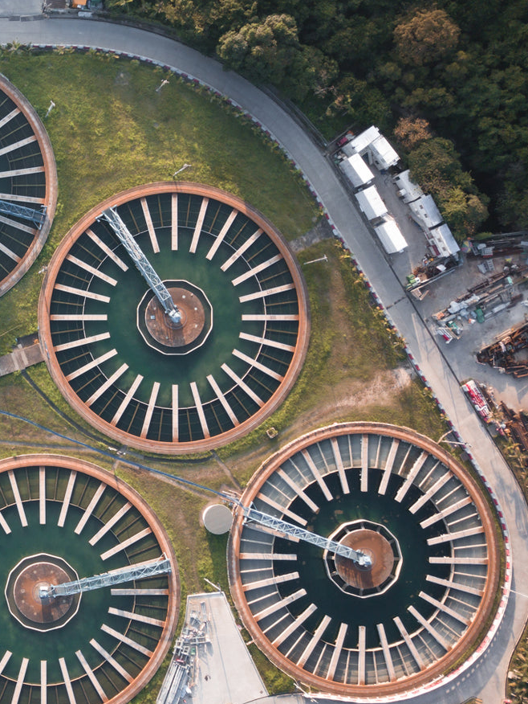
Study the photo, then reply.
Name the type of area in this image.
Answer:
industrial area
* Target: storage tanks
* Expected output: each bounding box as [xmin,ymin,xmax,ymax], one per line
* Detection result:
[201,503,232,533]
[0,455,181,704]
[37,181,309,453]
[0,74,58,296]
[227,421,505,698]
